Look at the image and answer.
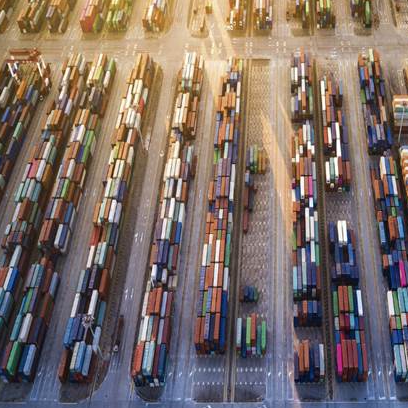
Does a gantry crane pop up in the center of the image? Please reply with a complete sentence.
No, I see no gantry crane in the center of the image.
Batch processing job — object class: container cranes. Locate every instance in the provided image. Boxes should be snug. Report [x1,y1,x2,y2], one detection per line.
[3,50,53,94]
